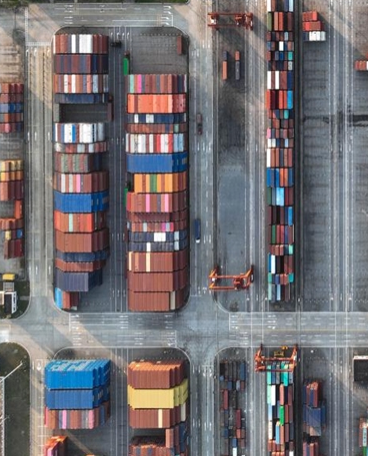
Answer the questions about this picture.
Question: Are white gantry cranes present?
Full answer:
No, the frame has no white gantry crane in it.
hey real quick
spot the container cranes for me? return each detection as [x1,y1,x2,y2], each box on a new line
[206,12,253,33]
[206,264,253,292]
[254,340,299,373]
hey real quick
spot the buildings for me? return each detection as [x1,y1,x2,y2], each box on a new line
[354,354,368,384]
[2,290,16,312]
